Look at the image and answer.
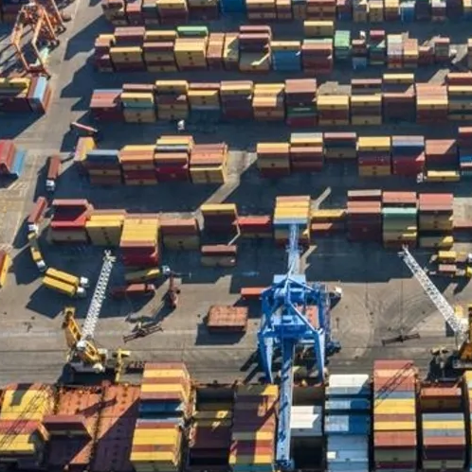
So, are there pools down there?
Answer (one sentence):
No, I find no pool anywhere in the image.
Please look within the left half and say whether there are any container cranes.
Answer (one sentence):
Yes, a container crane is visible within the left half.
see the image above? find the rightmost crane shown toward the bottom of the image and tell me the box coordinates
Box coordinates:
[398,249,472,380]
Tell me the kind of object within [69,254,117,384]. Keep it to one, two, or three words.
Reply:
crane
